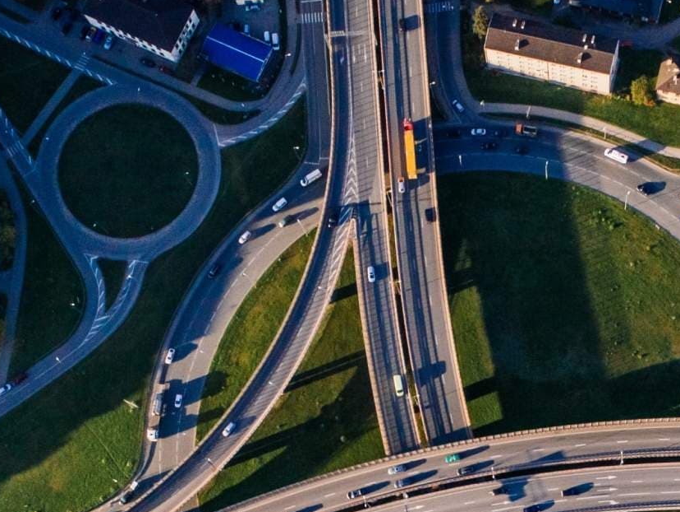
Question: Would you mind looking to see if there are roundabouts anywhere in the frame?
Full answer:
Yes, the image includes a roundabout.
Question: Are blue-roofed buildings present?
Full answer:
Yes, a blue-roofed building can be made out from above.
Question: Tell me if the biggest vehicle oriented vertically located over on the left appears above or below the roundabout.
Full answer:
Looking at the scene, the biggest vehicle oriented vertically located over on the left is located below the roundabout.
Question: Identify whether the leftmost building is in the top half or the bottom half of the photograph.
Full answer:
It is in the top half that the leftmost building appears.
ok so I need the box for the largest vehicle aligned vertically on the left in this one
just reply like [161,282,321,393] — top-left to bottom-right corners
[146,384,165,443]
